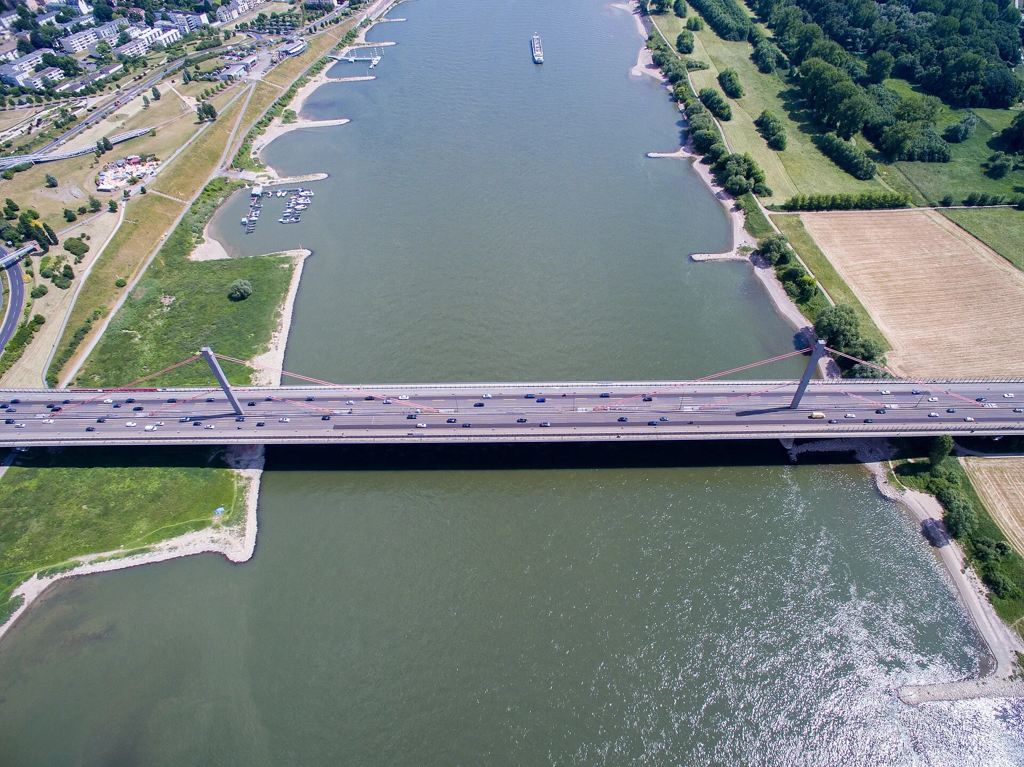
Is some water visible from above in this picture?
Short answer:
Yes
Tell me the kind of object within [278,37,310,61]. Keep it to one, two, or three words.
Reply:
building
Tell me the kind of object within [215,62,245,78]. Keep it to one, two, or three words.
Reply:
building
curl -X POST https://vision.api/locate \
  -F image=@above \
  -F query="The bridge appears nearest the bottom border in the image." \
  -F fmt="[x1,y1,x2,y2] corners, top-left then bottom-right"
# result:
[0,340,1024,460]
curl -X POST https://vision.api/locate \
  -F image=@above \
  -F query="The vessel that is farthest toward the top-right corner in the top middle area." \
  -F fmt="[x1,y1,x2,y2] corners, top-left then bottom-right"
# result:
[530,31,544,64]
